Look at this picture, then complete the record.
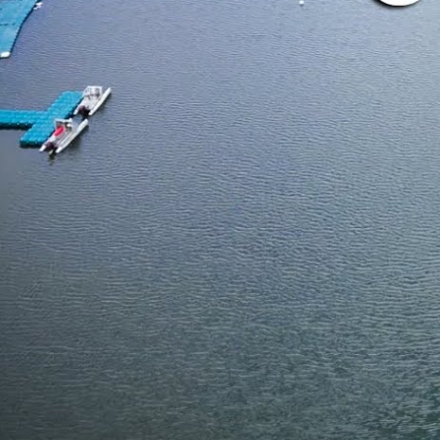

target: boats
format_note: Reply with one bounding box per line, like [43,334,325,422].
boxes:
[38,116,88,156]
[70,80,111,119]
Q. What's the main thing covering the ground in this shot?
water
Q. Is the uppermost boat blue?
No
